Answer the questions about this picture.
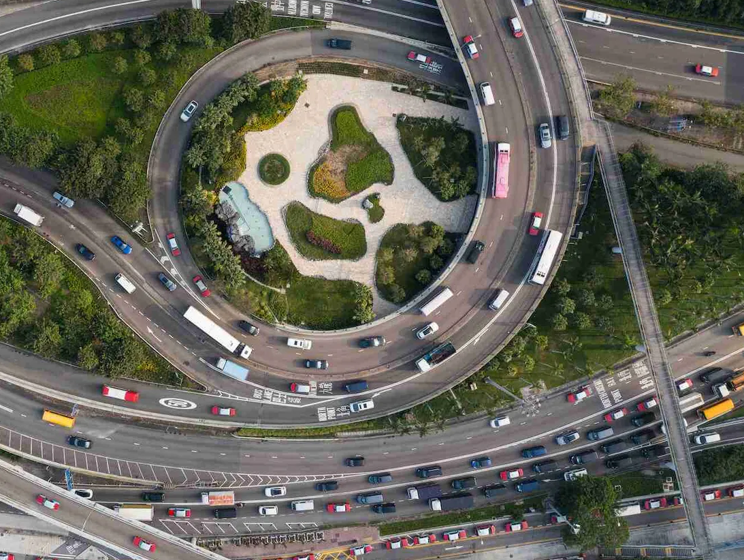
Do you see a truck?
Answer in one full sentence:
Yes, there is a truck in the image.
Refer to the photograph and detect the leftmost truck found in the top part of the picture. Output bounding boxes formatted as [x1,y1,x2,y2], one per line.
[15,204,46,226]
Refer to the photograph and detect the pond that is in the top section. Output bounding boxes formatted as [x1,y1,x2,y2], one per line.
[218,181,276,256]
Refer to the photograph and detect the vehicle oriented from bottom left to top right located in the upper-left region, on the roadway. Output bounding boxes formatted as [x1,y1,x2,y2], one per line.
[180,99,199,123]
